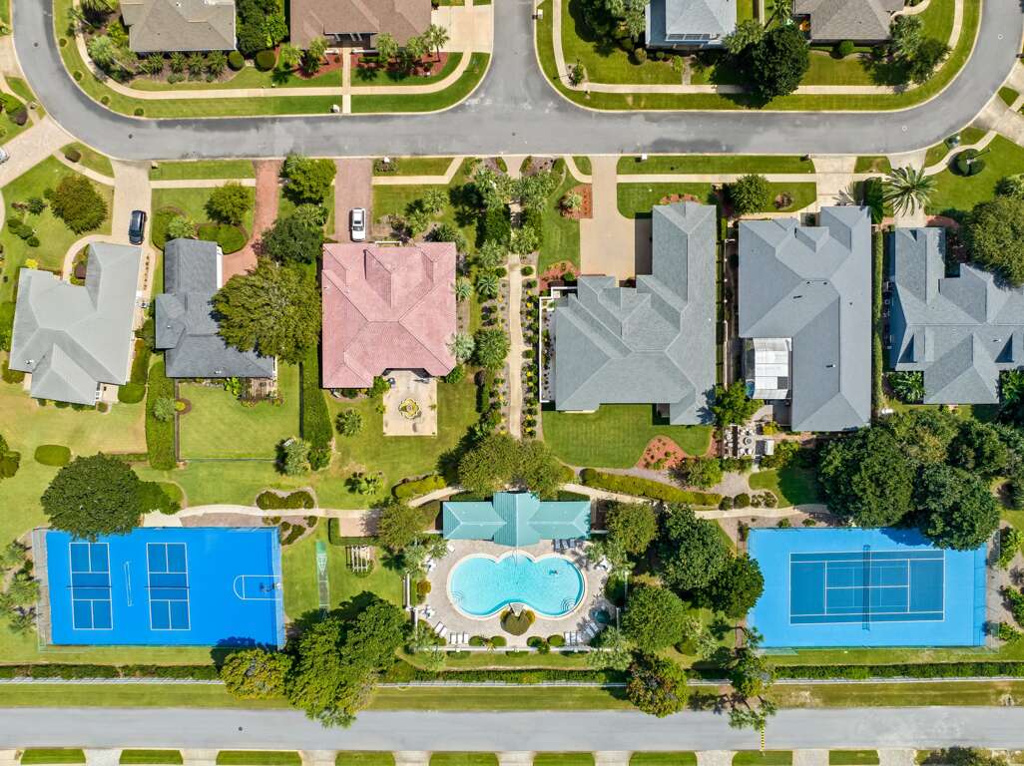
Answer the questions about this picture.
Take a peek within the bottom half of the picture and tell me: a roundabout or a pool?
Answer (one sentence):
You can see a pool within the bottom half of the picture.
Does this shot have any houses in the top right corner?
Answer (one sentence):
Yes, I can see a house in the top right corner.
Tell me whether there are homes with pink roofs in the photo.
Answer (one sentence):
Yes, looking at the shot, I can spot a home with a pink roof.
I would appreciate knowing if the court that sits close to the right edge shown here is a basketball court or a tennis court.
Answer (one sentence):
The court that sits close to the right edge can be classified as a tennis court.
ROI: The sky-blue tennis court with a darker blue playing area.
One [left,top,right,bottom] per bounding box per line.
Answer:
[748,528,988,648]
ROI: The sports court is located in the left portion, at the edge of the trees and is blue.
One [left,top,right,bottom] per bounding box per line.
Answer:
[46,527,285,648]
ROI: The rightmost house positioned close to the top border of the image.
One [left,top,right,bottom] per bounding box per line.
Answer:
[792,0,904,45]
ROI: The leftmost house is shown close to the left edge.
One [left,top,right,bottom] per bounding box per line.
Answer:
[9,242,148,406]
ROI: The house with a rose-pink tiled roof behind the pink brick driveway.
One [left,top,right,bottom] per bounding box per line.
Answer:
[322,240,456,388]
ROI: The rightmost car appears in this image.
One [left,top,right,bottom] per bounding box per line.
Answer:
[350,207,365,240]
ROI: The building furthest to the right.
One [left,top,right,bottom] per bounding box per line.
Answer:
[887,227,1024,419]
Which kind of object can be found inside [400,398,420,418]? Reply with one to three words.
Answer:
fountain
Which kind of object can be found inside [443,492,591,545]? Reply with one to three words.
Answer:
building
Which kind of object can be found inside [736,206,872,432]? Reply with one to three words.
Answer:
house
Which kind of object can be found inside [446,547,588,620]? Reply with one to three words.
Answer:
swimming pool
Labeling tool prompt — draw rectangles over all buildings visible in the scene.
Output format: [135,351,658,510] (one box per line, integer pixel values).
[120,0,240,56]
[736,206,872,432]
[322,240,456,388]
[647,0,736,51]
[9,242,148,406]
[887,227,1024,419]
[290,0,431,55]
[443,492,591,545]
[555,200,717,426]
[792,0,904,45]
[155,236,279,380]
